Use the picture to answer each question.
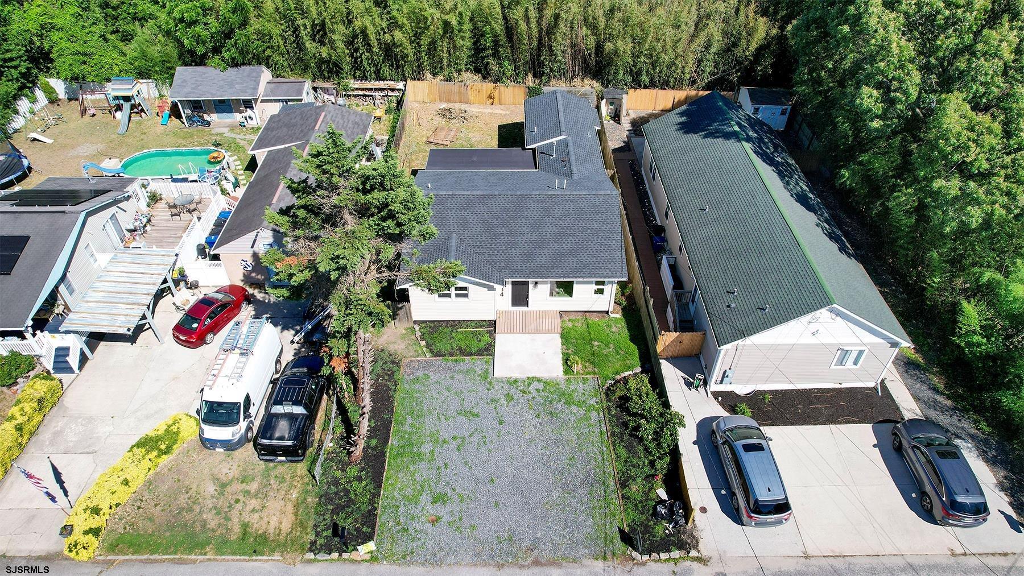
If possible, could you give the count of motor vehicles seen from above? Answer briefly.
five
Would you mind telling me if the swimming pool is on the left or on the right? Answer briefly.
left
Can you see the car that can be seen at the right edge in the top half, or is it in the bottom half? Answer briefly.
bottom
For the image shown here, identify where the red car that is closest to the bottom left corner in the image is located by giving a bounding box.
[163,284,253,353]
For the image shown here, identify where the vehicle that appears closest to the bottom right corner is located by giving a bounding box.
[894,421,987,531]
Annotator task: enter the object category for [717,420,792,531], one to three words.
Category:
car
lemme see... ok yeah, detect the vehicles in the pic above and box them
[254,356,329,465]
[894,421,987,531]
[190,322,281,454]
[163,284,253,353]
[717,420,792,531]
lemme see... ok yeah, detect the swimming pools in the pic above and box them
[118,147,239,193]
